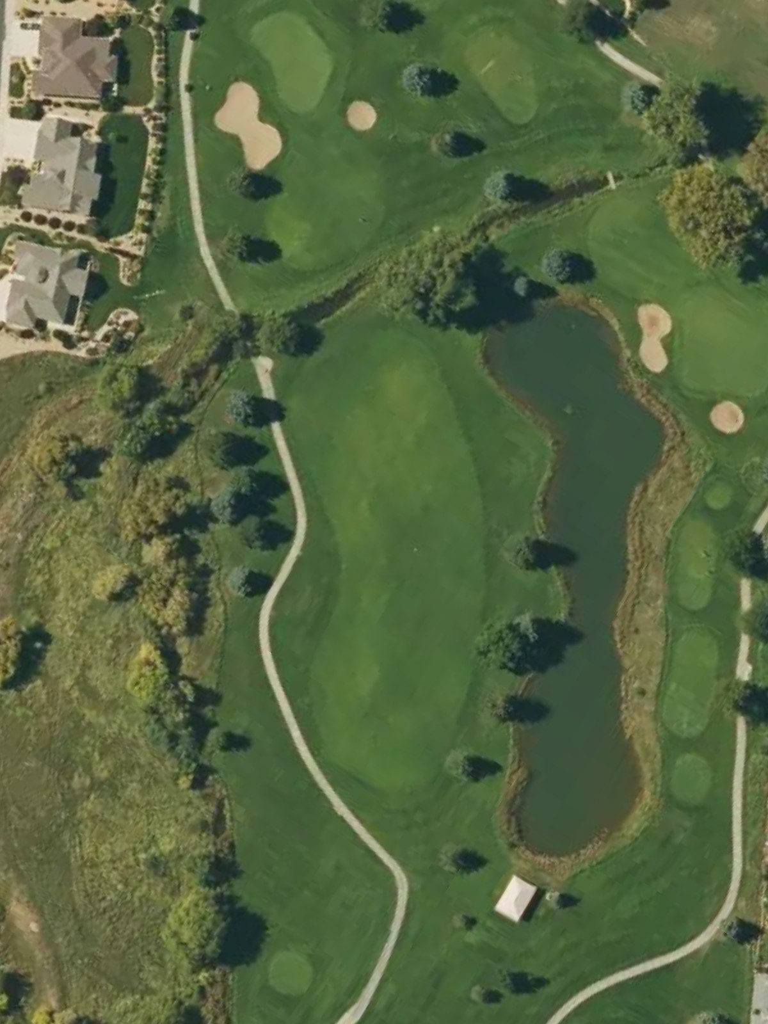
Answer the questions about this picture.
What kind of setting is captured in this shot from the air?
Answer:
golf course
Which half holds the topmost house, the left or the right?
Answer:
left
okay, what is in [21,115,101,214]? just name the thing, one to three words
house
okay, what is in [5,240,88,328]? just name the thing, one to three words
house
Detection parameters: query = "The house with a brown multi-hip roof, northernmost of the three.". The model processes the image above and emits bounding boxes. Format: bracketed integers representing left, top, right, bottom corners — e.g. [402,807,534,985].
[30,15,117,97]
